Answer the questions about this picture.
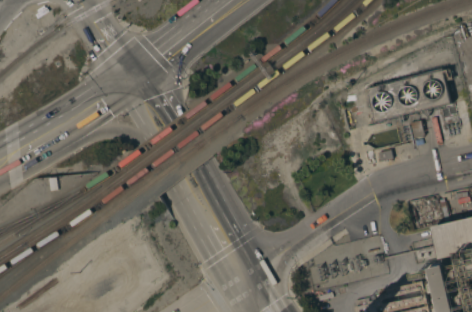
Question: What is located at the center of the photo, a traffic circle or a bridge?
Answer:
bridge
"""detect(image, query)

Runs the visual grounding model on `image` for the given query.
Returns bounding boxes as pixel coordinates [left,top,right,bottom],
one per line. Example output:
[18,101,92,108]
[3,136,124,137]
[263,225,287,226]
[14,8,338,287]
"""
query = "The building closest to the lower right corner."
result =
[425,264,457,312]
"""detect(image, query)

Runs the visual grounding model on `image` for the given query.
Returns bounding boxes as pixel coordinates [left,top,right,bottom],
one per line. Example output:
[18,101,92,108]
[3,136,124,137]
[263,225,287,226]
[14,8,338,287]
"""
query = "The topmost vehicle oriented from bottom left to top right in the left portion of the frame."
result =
[168,0,202,24]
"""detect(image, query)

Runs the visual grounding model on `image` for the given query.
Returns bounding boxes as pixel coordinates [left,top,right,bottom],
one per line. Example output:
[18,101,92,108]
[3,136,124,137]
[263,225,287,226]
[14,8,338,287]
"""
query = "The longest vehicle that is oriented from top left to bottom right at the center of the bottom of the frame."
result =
[253,246,279,286]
